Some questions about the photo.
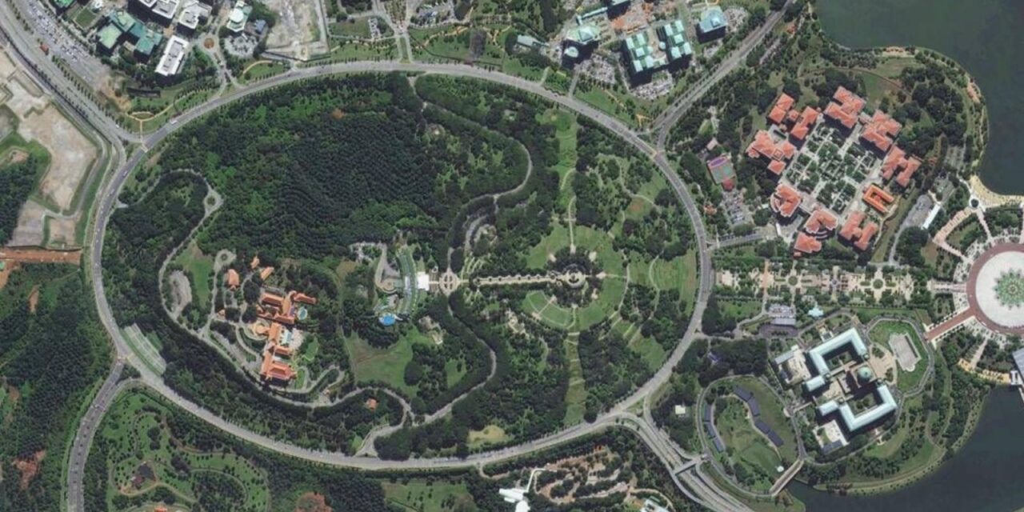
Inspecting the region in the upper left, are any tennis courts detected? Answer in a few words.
No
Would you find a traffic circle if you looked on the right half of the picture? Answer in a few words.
Yes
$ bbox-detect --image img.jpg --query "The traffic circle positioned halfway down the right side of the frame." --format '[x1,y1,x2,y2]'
[963,240,1024,338]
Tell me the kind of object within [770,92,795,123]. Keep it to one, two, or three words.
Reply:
building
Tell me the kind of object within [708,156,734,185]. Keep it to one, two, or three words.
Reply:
tennis court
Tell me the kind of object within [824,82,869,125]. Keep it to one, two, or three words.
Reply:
building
